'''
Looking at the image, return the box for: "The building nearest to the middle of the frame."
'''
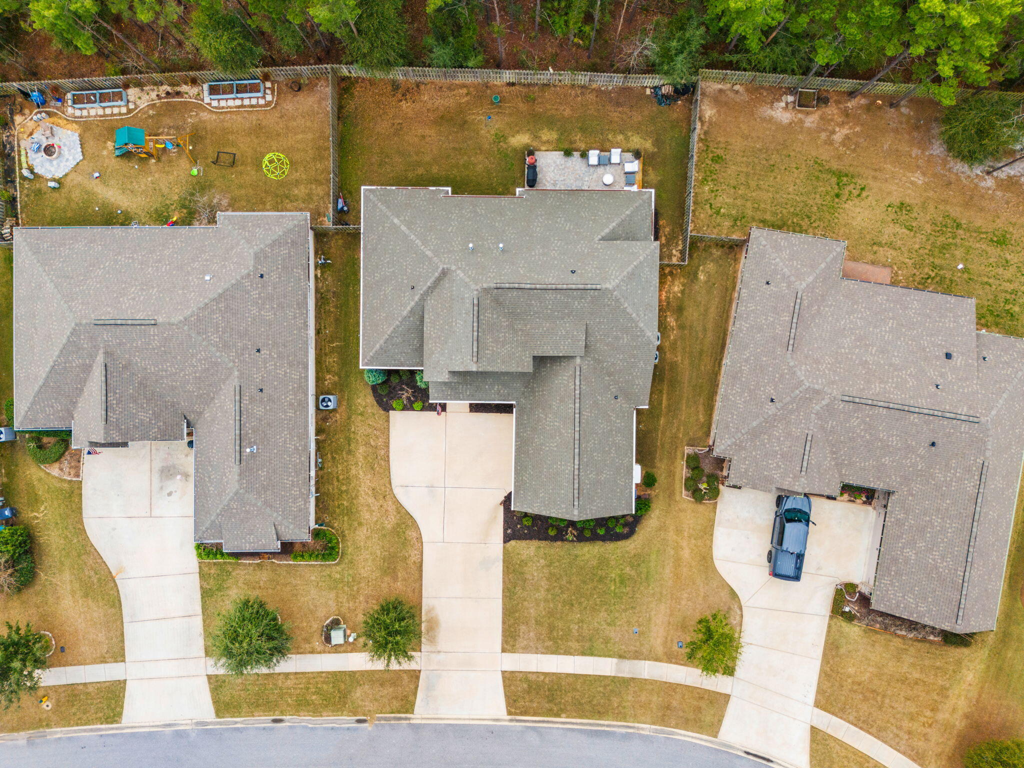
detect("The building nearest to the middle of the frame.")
[360,186,660,521]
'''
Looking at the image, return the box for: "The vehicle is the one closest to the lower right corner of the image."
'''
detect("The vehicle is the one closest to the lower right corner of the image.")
[767,494,818,580]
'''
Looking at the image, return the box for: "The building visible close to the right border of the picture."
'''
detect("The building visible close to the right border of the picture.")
[706,227,1024,634]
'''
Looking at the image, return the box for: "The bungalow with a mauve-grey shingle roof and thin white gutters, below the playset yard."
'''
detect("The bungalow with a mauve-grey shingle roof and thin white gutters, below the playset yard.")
[12,212,317,553]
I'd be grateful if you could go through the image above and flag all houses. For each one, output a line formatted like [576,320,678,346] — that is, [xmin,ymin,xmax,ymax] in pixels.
[360,186,660,521]
[12,212,317,553]
[706,227,1024,634]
